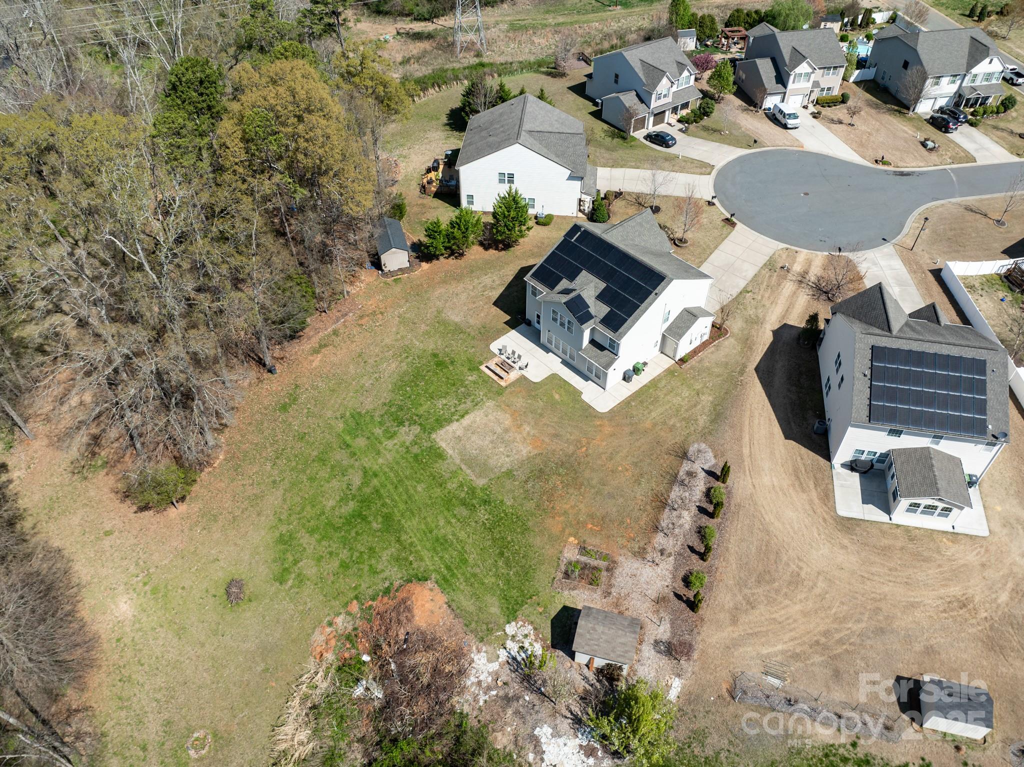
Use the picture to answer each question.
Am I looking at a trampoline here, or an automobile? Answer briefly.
automobile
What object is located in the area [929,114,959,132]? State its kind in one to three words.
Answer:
car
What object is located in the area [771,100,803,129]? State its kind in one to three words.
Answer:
van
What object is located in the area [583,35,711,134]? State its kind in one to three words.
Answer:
house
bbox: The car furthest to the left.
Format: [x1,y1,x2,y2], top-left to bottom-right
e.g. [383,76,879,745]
[644,131,677,147]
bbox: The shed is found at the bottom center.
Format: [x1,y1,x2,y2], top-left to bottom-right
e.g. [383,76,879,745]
[572,606,641,678]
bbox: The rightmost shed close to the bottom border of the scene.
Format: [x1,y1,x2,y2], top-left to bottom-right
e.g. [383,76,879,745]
[915,669,996,741]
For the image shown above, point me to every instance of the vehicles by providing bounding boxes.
[937,104,968,123]
[1006,65,1024,84]
[771,100,803,129]
[644,131,677,147]
[929,114,959,132]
